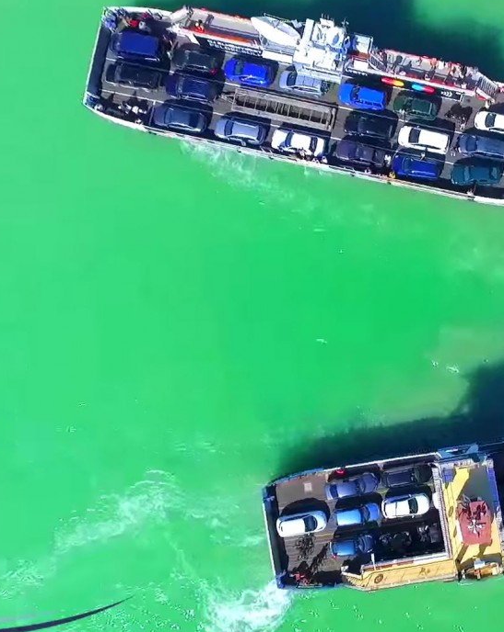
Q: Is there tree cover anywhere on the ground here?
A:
No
